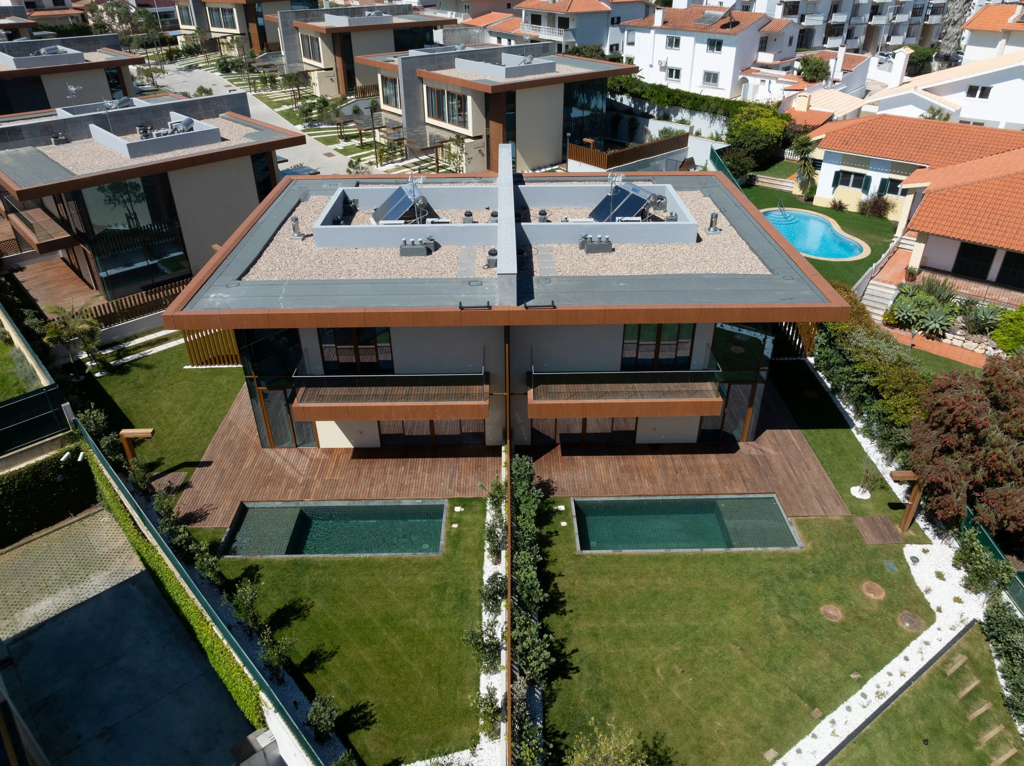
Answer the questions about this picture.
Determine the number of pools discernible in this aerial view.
3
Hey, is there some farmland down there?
No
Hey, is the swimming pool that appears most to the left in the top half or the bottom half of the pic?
bottom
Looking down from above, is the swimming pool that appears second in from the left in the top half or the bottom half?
bottom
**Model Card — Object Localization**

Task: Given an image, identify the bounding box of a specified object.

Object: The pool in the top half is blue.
[761,198,870,260]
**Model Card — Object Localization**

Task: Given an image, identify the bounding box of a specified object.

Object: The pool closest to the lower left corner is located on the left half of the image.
[221,498,447,560]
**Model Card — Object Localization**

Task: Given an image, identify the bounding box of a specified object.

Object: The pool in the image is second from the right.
[572,493,804,554]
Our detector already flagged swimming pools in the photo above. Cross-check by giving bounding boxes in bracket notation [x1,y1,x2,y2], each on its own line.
[221,498,447,560]
[572,493,804,554]
[761,198,870,260]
